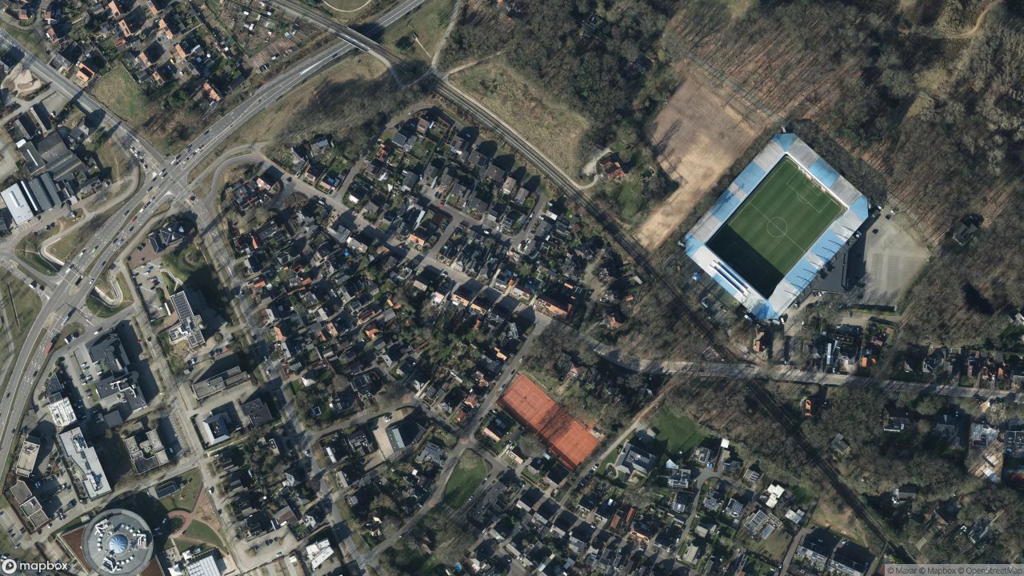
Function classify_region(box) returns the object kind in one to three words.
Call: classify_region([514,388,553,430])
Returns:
tennis court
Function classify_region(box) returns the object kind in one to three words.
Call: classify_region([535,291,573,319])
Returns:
house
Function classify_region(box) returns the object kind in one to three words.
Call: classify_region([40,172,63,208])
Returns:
building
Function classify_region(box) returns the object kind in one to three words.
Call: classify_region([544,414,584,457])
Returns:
tennis court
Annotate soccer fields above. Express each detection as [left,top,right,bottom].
[708,154,847,298]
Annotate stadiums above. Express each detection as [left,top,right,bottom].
[685,134,868,319]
